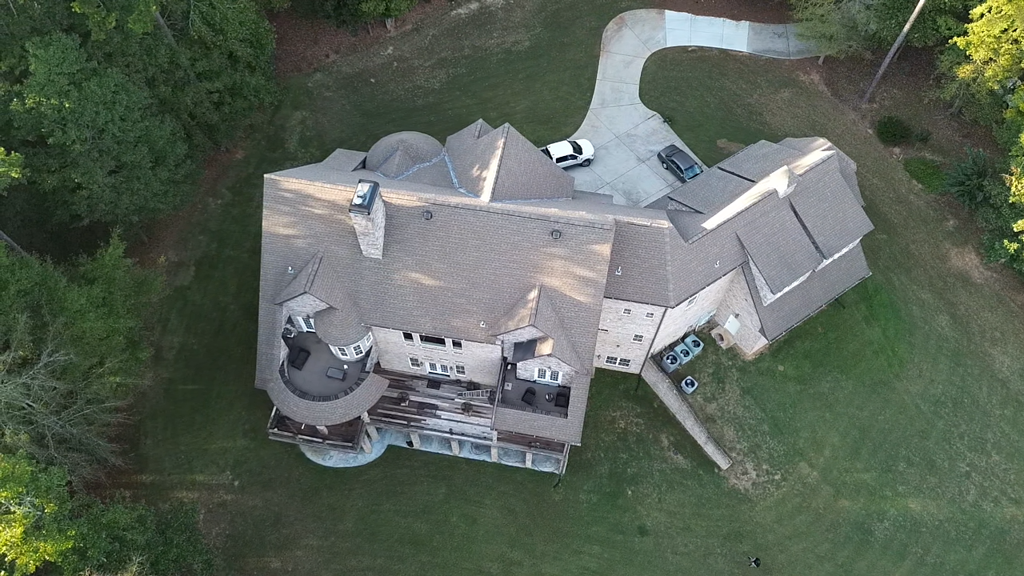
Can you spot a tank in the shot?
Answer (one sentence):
No, the photo shows no tank.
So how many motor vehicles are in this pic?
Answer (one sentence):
The number of motor vehicles here is 2.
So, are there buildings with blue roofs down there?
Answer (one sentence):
No, there appears to be no building with a blue roof in this shot.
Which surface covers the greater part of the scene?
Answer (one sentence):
The largest share of the image is taken up by grass.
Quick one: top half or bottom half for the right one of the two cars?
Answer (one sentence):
Seen from above, the right one of the two cars lies in the top half of the view.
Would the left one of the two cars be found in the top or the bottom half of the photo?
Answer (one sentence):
You can find the left one of the two cars in the top half.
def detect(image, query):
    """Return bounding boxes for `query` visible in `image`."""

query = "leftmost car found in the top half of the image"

[536,134,598,169]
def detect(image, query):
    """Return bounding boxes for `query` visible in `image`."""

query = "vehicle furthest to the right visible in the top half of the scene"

[661,139,710,181]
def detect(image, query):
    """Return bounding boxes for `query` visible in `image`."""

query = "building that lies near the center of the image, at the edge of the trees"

[256,118,876,454]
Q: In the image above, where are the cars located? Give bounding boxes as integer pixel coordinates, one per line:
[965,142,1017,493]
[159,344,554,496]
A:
[536,134,598,169]
[661,139,710,181]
